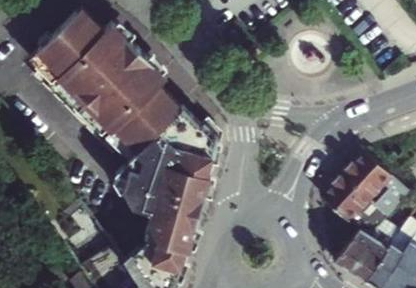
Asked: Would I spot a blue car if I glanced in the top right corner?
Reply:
Yes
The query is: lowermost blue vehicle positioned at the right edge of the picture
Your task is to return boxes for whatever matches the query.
[374,45,399,66]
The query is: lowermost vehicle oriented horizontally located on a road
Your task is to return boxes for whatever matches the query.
[346,102,372,116]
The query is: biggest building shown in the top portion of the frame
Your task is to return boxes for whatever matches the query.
[57,28,182,146]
